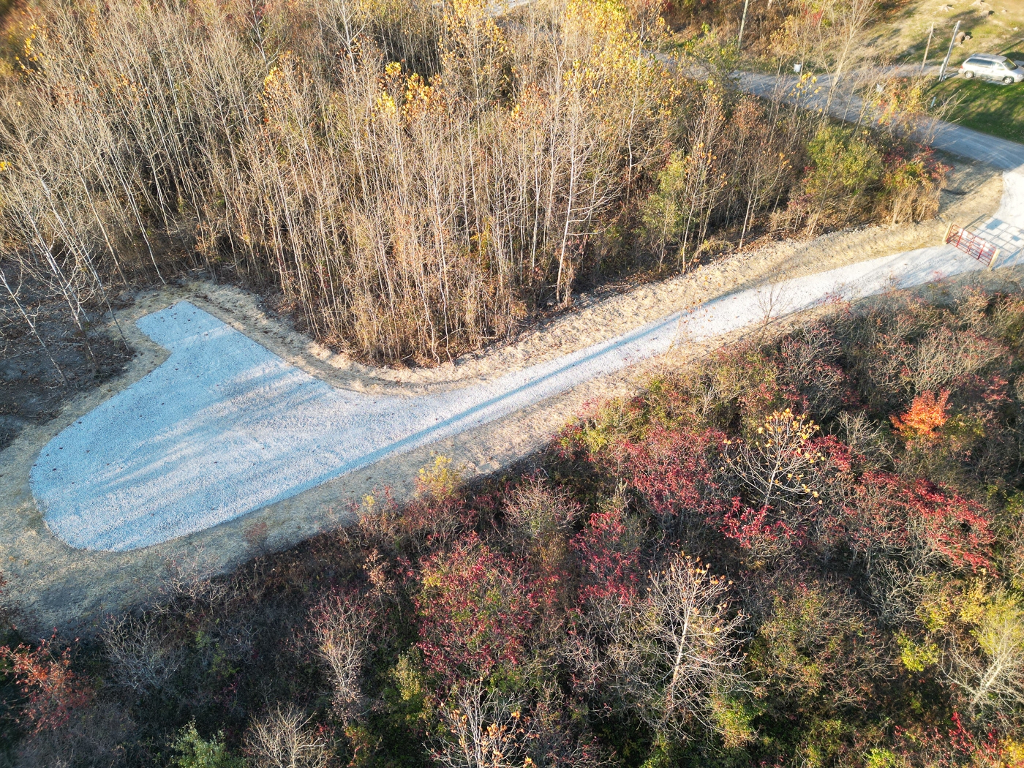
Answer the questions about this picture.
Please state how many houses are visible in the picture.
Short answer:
zero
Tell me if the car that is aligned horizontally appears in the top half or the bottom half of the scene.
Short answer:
top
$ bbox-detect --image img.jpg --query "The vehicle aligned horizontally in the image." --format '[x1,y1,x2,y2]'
[959,44,1024,80]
